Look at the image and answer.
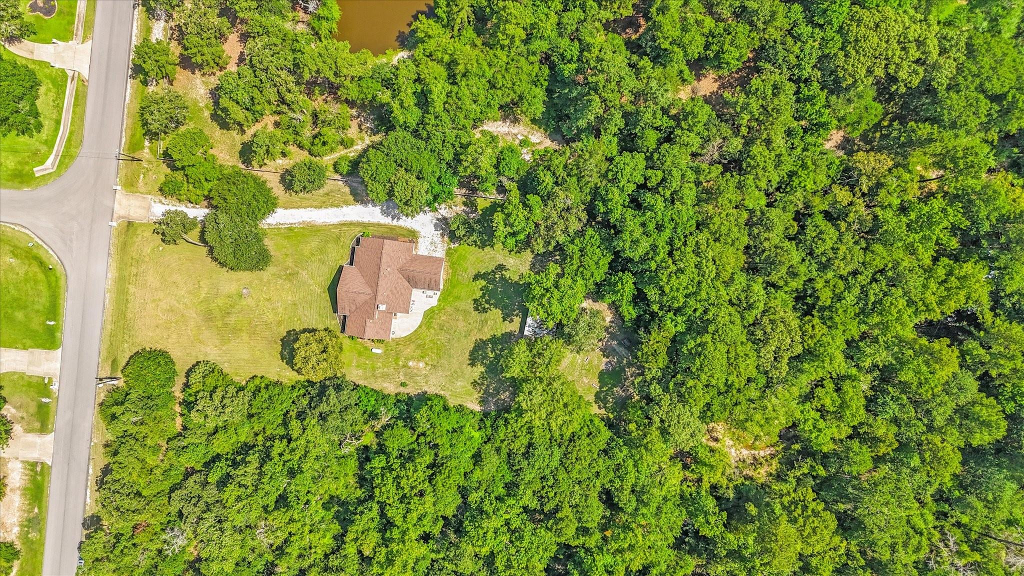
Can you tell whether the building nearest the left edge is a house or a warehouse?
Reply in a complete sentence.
I'd say the building nearest the left edge is a house.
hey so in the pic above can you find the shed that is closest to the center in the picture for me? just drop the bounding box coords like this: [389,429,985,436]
[527,313,556,341]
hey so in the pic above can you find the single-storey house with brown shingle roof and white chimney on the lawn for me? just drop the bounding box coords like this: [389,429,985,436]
[337,237,444,340]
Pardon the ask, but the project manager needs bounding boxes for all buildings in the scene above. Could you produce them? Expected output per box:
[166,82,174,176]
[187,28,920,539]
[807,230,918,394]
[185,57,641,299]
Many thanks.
[337,237,444,340]
[527,313,556,341]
